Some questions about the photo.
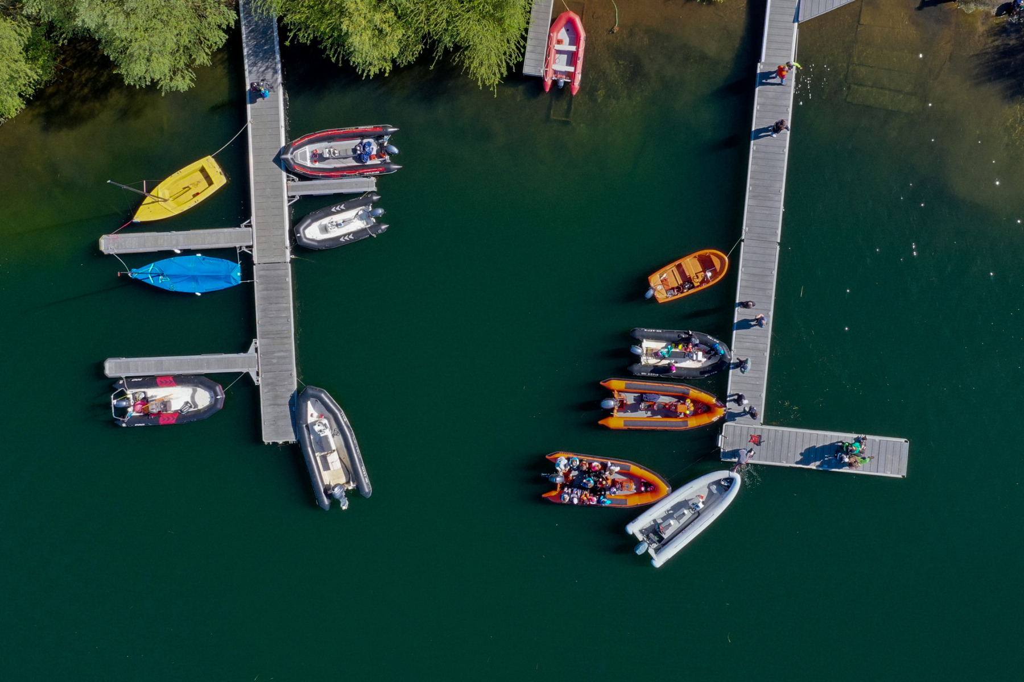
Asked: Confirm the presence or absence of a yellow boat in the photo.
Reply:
Yes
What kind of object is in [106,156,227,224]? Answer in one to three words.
boat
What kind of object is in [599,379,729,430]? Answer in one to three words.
boat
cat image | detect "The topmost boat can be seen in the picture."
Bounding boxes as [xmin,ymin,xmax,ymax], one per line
[544,9,586,97]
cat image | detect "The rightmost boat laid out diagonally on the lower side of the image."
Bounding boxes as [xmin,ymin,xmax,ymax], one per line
[626,468,743,569]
